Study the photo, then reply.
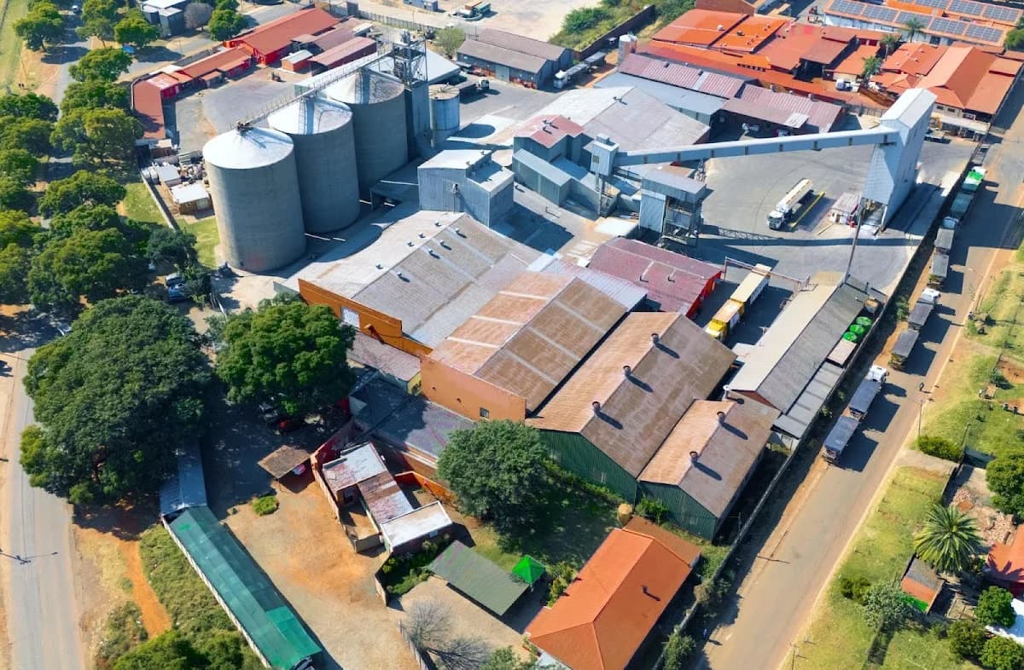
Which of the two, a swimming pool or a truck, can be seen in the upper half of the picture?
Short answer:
truck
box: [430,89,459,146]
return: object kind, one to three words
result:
storage tank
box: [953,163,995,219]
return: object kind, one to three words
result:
truck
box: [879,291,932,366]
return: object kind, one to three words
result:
truck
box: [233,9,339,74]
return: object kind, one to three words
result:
building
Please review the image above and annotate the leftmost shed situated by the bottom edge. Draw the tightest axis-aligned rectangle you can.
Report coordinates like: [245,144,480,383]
[168,510,329,670]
